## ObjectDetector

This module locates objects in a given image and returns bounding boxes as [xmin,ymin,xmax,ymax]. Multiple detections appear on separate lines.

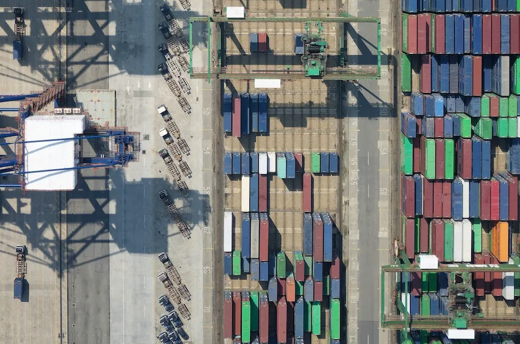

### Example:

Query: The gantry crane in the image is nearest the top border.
[189,0,381,91]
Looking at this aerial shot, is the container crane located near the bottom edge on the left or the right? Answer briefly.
right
